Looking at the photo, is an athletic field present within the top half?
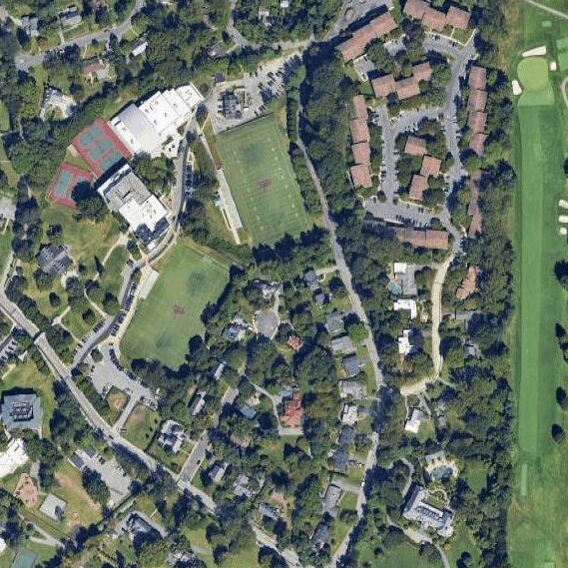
Yes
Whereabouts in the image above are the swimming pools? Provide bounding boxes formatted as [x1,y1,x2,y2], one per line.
[431,467,454,479]
[387,280,402,296]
